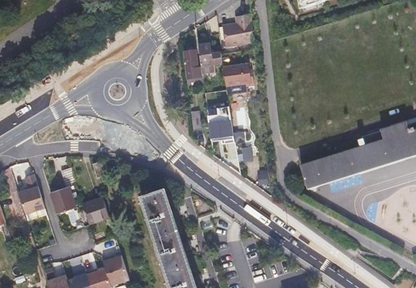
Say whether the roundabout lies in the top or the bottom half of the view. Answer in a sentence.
The top half of the photo is where the roundabout is.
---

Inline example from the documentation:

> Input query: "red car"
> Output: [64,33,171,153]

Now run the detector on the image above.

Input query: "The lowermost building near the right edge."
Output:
[300,121,416,190]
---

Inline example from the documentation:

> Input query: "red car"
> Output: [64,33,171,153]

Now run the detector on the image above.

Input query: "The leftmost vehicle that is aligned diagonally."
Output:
[16,102,32,116]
